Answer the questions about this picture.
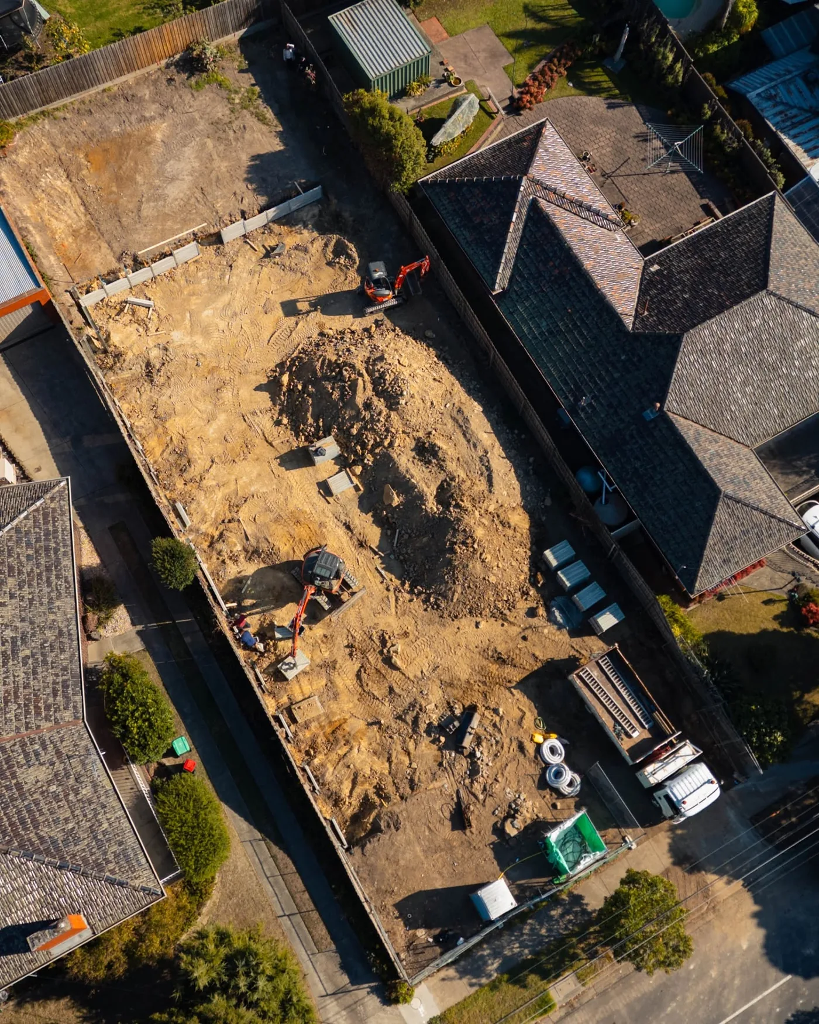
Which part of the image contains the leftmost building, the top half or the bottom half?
top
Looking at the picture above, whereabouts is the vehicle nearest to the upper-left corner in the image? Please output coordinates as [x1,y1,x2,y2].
[357,255,433,321]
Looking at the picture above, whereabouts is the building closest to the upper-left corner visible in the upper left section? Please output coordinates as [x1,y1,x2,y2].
[0,195,64,346]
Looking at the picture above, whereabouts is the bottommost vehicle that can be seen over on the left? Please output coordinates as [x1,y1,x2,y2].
[287,543,363,663]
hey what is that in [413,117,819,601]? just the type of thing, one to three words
house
